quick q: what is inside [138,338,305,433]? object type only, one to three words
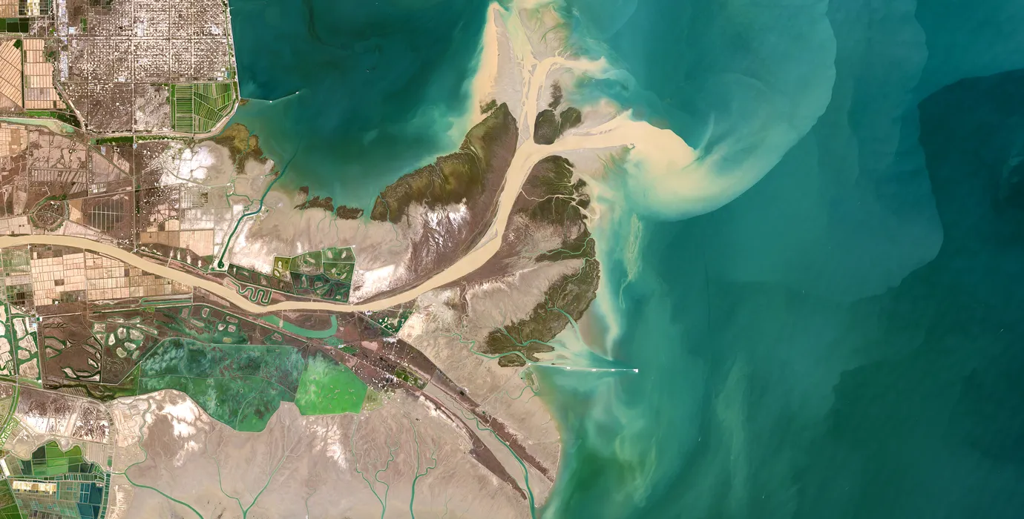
pond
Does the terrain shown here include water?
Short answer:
Yes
